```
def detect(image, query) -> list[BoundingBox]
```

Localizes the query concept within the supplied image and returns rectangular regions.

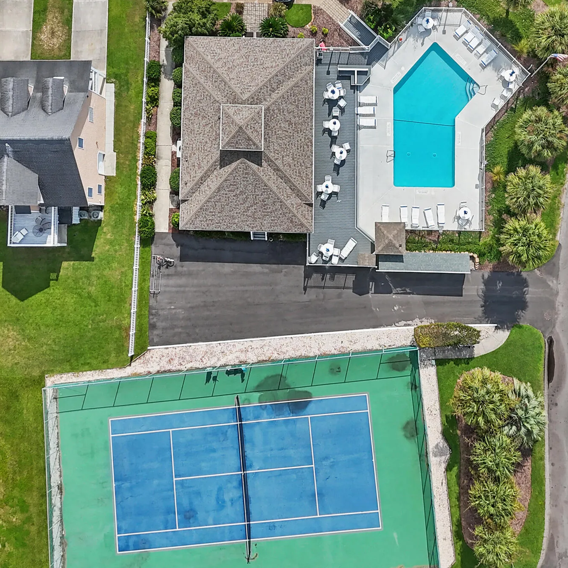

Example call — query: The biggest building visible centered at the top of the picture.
[178,30,315,242]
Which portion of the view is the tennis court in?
bottom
